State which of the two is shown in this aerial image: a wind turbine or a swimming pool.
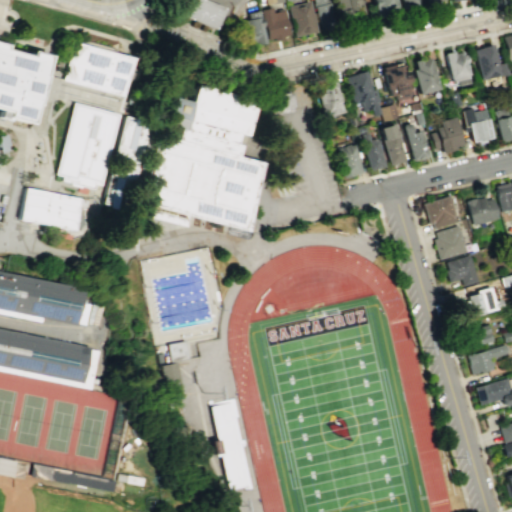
swimming pool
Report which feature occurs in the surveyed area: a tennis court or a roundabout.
tennis court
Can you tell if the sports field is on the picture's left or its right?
right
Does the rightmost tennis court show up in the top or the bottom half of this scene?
bottom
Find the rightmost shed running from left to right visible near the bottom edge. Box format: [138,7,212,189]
[52,472,115,492]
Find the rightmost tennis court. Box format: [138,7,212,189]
[75,406,108,461]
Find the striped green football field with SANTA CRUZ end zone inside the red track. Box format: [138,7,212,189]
[250,294,430,512]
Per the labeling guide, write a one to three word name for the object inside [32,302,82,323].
solar array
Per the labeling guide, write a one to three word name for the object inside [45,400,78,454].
tennis court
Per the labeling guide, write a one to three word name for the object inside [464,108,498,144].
house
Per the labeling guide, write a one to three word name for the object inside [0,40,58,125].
building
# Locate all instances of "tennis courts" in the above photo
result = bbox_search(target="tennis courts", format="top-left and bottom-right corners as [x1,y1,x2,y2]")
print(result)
[0,388,18,442]
[75,406,108,461]
[15,394,48,448]
[45,400,78,454]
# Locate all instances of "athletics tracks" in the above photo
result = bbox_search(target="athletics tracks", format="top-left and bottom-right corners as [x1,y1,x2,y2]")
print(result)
[227,245,453,512]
